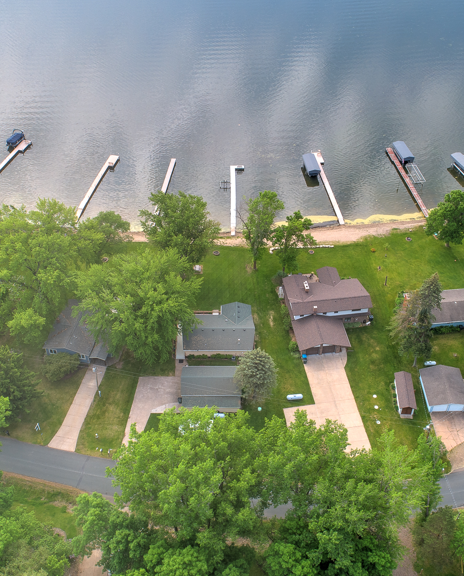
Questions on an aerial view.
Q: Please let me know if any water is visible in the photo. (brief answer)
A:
Yes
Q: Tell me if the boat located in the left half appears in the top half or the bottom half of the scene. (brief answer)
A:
top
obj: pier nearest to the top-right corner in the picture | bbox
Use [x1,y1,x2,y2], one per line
[386,146,424,210]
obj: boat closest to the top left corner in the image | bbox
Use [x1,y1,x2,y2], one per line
[3,126,28,147]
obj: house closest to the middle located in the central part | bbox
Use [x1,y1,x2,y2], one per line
[174,297,254,361]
